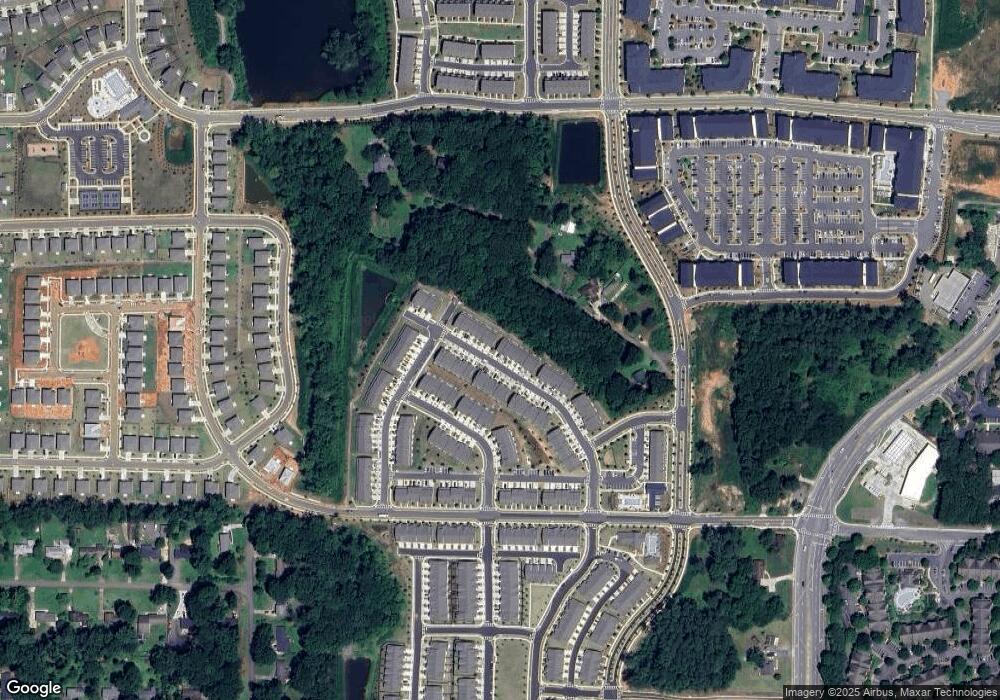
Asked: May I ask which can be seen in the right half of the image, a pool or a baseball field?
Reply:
pool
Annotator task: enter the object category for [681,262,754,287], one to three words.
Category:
building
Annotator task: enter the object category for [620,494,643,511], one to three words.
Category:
swimming pool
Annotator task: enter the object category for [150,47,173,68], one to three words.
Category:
house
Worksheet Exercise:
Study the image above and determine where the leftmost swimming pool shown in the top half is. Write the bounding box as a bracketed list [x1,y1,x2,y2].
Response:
[88,68,138,118]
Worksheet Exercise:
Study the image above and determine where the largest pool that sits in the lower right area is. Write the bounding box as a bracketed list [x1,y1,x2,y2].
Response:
[894,587,922,611]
